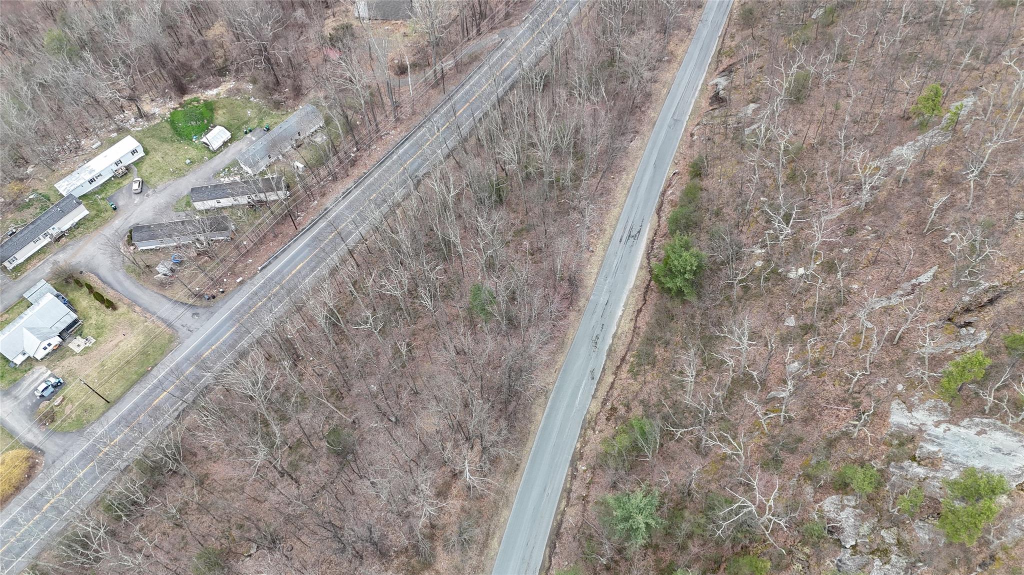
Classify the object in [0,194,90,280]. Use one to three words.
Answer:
house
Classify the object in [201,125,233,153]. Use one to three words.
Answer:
shed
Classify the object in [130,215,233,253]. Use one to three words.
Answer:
house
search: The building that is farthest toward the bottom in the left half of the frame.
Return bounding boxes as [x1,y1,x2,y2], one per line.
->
[0,279,85,366]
